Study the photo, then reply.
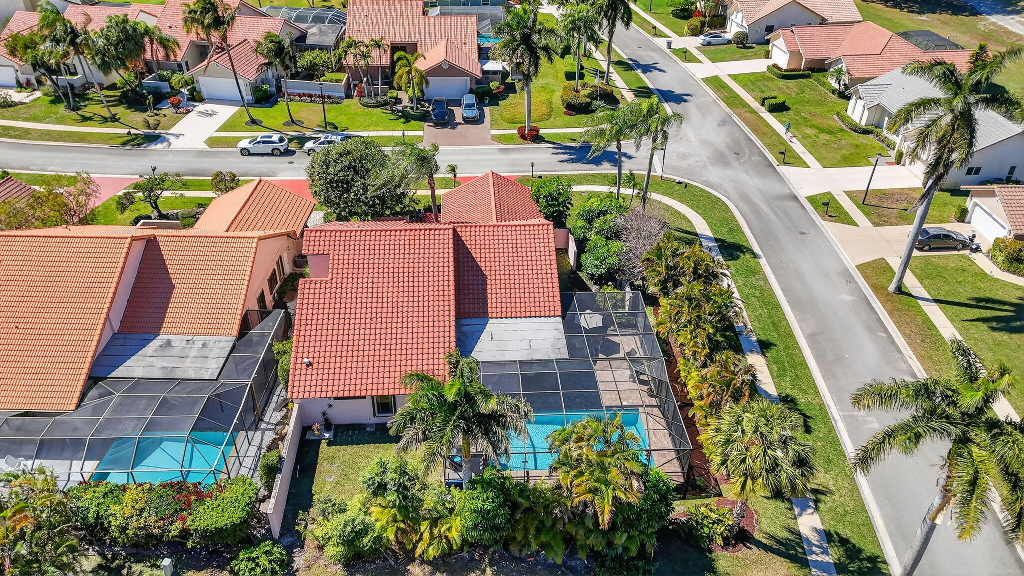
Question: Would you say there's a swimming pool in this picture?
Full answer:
Yes, this view includes a swimming pool.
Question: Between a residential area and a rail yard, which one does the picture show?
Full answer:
This looks like a residential area.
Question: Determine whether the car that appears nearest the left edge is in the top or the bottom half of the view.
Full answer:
The car that appears nearest the left edge is in the top half of the image.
